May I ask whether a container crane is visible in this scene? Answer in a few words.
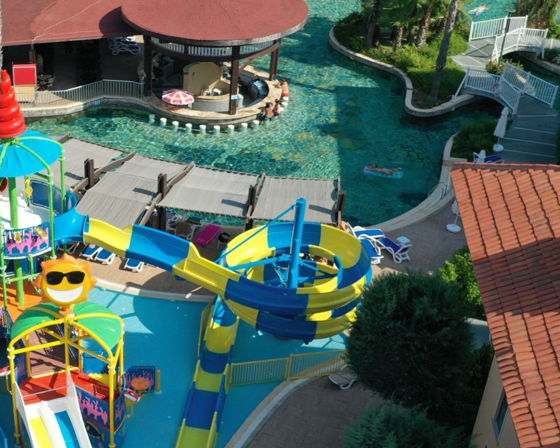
No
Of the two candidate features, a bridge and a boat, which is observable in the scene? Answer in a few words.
bridge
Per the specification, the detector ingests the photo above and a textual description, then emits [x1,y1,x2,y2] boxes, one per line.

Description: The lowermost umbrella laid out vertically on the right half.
[446,191,461,231]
